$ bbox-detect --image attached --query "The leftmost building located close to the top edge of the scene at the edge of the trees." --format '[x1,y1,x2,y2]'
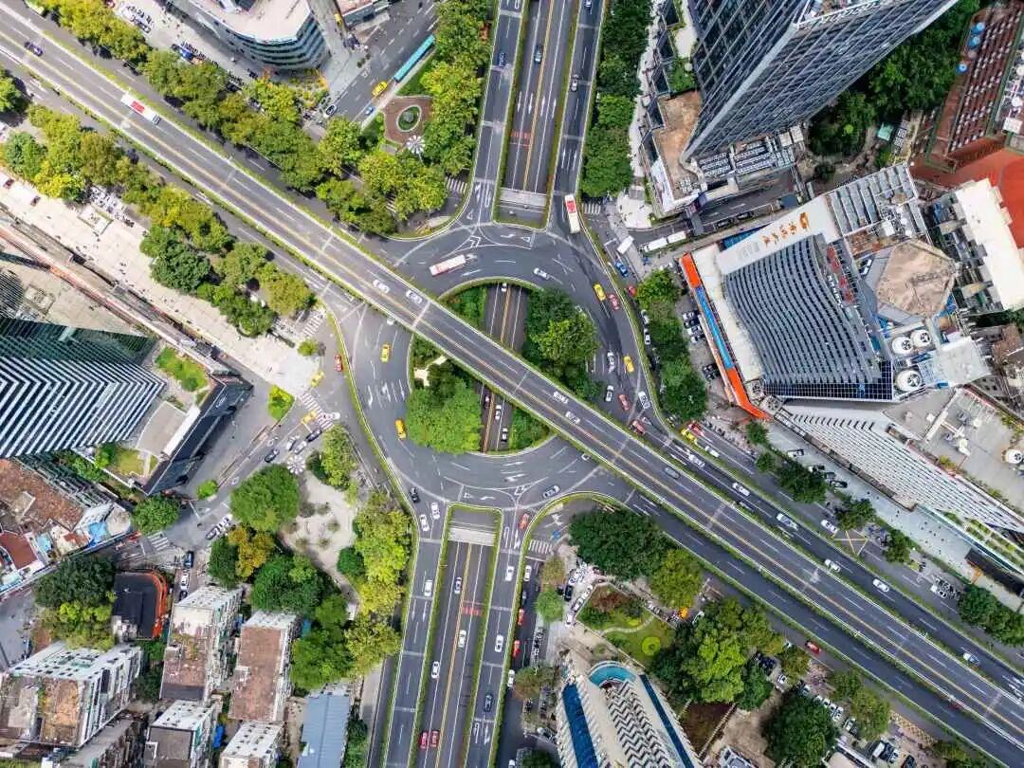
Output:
[174,0,329,75]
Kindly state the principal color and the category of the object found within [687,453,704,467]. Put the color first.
white car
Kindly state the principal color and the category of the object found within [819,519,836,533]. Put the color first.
white car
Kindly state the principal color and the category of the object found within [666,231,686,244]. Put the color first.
white vehicle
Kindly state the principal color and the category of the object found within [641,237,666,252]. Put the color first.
white vehicle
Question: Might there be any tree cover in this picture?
Yes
